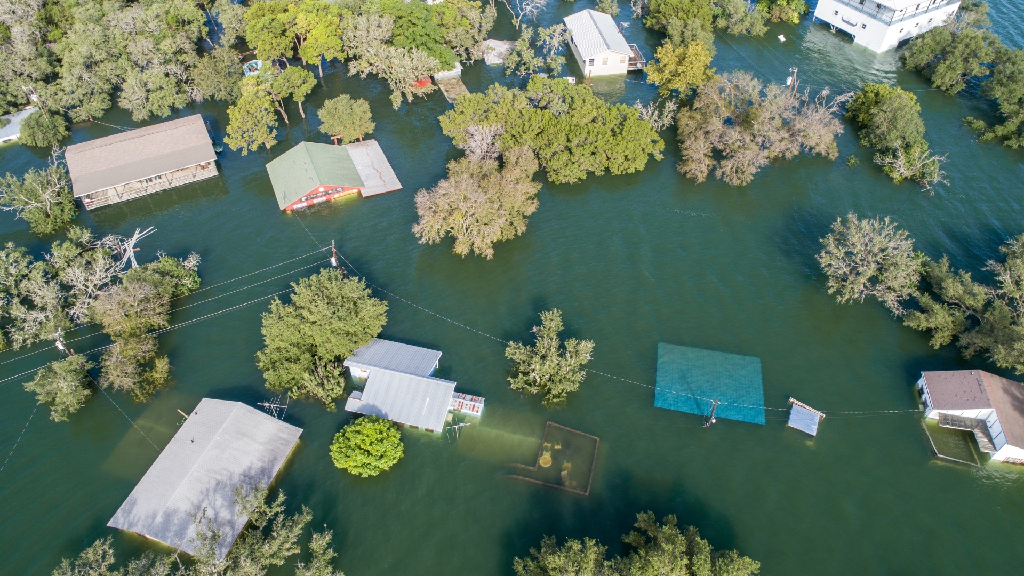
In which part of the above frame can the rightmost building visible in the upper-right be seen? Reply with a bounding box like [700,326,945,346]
[812,0,963,71]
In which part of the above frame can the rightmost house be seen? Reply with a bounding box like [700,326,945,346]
[905,367,1024,485]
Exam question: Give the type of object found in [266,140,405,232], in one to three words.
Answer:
building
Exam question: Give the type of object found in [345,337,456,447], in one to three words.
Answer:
house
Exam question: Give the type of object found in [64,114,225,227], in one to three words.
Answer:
house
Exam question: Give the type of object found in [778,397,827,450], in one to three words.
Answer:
shed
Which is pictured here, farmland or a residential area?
residential area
